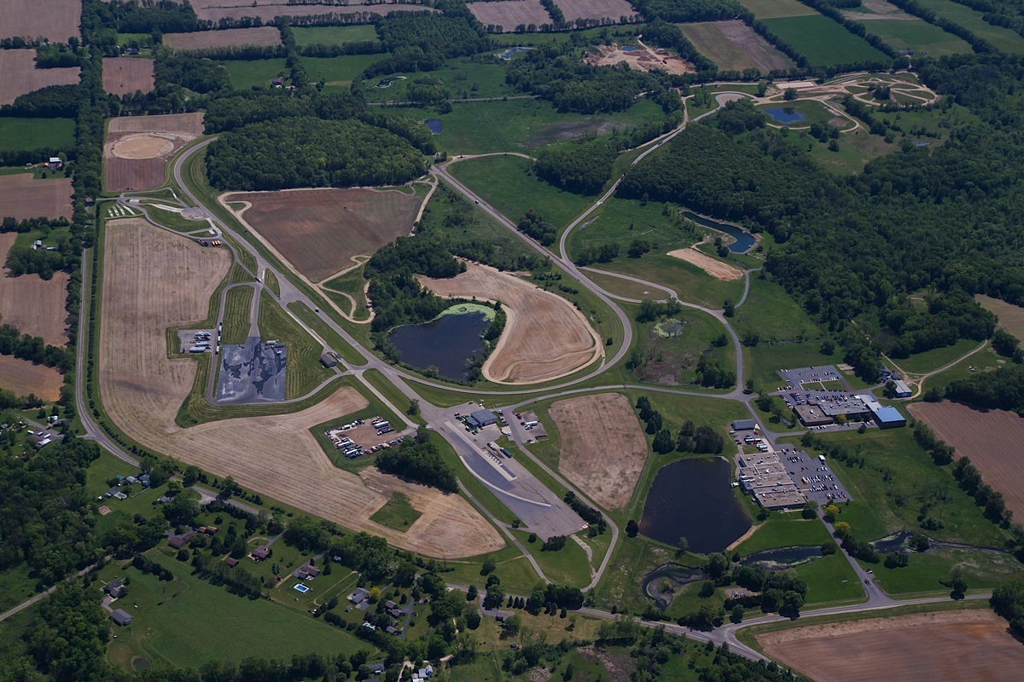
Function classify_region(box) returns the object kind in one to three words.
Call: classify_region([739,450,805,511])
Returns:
building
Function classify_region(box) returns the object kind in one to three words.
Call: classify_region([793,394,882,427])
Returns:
building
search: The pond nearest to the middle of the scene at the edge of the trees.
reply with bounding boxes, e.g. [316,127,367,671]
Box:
[390,310,489,380]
